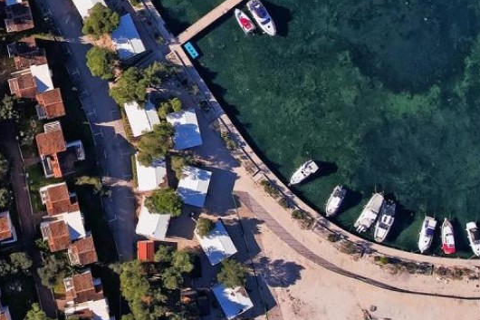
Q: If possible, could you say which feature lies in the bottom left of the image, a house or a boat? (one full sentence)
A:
What appears in the bottom left of the image is a house.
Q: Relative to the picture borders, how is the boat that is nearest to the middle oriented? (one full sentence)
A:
I'd say the boat that is nearest to the middle is aligned on a diagonal in the picture.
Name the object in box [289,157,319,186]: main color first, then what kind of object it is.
white boat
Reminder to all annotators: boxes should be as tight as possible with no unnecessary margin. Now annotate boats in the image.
[418,214,438,254]
[376,198,398,243]
[325,182,346,217]
[465,218,480,256]
[441,219,456,256]
[353,192,383,232]
[245,0,280,41]
[235,10,255,34]
[289,157,319,186]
